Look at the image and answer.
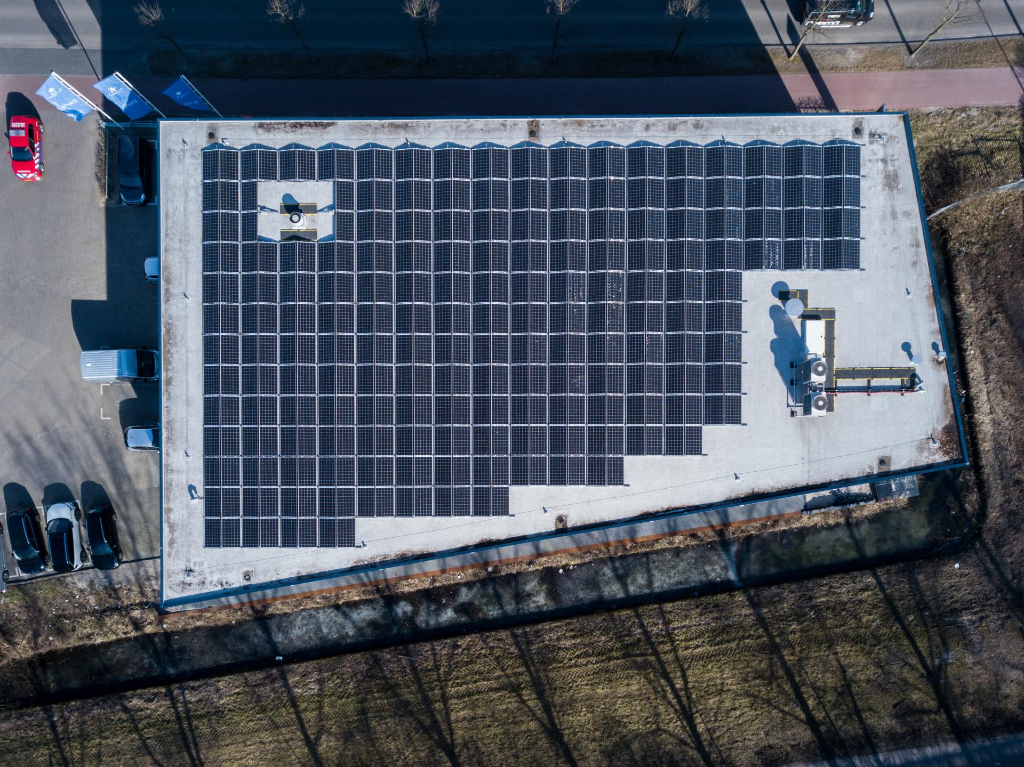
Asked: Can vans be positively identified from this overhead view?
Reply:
Yes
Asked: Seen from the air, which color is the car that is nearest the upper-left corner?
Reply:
red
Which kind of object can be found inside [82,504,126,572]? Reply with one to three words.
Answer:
car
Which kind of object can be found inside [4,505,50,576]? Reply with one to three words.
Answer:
car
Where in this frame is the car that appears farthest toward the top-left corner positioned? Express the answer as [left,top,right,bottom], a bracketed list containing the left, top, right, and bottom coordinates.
[2,114,44,181]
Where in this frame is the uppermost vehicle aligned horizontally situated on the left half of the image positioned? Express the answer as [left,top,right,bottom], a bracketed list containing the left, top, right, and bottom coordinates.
[83,348,160,382]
